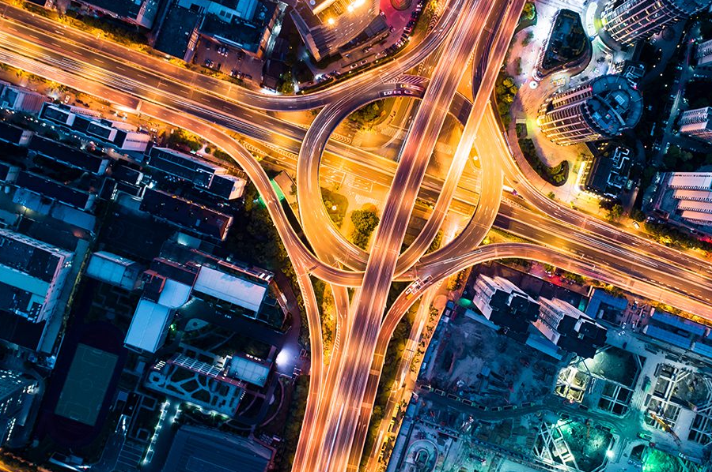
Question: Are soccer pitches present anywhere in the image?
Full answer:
Yes, there's a soccer pitch down there.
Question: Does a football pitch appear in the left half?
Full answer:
Yes, a football pitch appears in the left half.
